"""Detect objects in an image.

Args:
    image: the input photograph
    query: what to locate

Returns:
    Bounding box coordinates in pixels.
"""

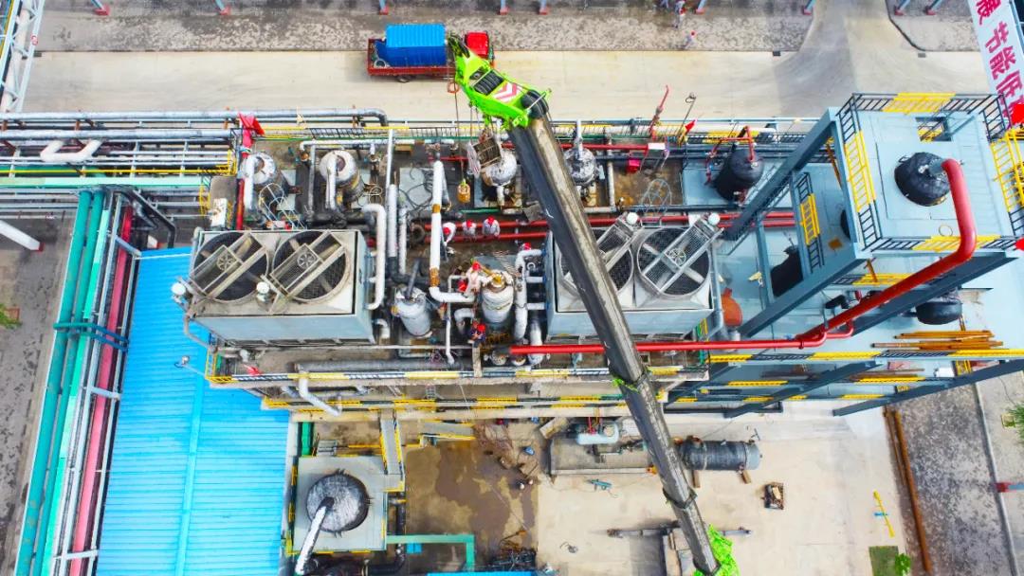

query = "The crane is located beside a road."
[444,34,751,576]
